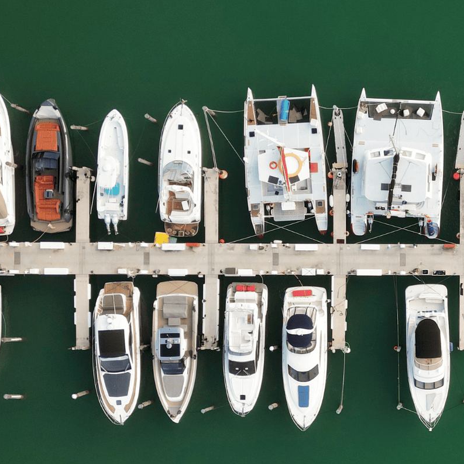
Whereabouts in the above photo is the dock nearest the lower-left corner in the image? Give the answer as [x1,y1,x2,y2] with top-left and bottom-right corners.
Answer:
[72,274,94,350]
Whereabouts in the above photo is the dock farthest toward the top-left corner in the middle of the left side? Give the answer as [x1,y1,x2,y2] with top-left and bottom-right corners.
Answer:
[73,167,94,242]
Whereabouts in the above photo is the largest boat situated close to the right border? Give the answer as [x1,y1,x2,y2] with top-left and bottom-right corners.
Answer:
[351,88,443,239]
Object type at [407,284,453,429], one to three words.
boat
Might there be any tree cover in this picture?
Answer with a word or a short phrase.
No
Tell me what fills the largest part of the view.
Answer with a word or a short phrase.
water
